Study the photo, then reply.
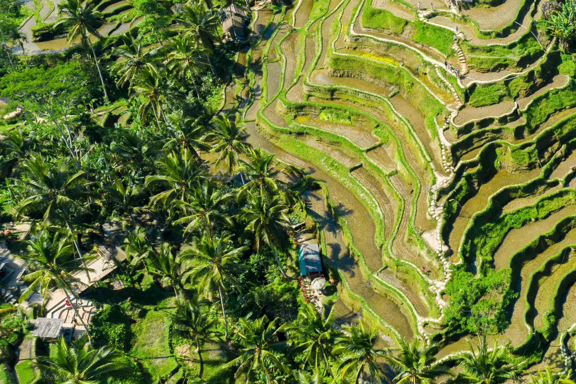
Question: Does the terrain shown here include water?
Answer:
Yes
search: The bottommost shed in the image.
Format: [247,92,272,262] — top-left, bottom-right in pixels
[22,316,68,346]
